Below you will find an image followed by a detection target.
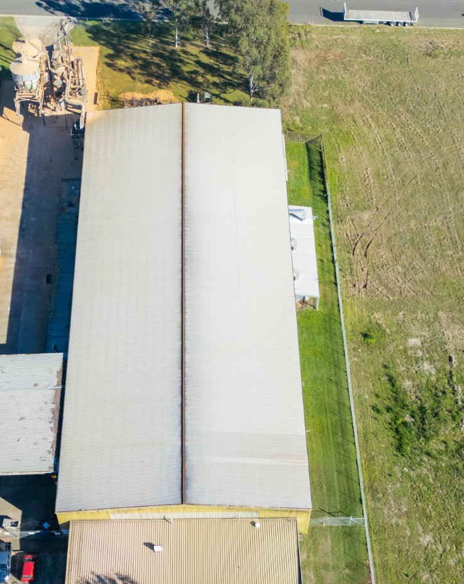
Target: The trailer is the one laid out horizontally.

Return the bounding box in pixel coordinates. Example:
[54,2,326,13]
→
[344,4,421,30]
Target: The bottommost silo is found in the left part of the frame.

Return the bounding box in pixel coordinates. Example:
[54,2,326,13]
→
[10,56,48,125]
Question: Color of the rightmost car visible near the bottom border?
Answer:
red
